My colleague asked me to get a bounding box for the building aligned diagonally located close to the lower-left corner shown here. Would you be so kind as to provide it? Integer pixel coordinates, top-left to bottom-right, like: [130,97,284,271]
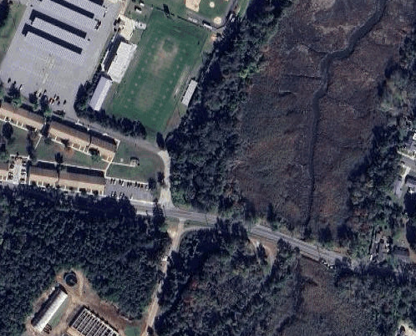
[32,290,68,333]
